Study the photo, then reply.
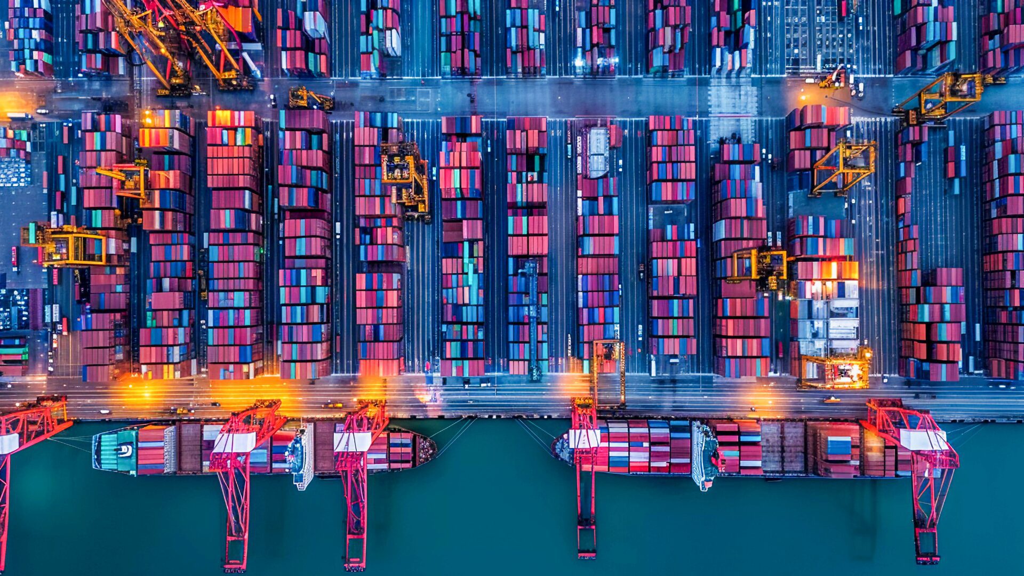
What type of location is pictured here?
port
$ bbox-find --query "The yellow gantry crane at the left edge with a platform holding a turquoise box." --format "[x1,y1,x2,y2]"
[20,223,129,266]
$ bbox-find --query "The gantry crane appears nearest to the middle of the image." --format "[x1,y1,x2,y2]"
[518,262,537,375]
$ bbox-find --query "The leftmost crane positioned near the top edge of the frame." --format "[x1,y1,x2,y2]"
[104,0,190,99]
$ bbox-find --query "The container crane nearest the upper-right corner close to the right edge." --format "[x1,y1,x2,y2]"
[897,73,1006,125]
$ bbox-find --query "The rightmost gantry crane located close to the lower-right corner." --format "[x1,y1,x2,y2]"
[857,398,962,565]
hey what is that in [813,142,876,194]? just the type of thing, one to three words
container crane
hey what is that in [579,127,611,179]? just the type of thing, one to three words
shed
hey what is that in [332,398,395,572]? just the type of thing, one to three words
container crane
